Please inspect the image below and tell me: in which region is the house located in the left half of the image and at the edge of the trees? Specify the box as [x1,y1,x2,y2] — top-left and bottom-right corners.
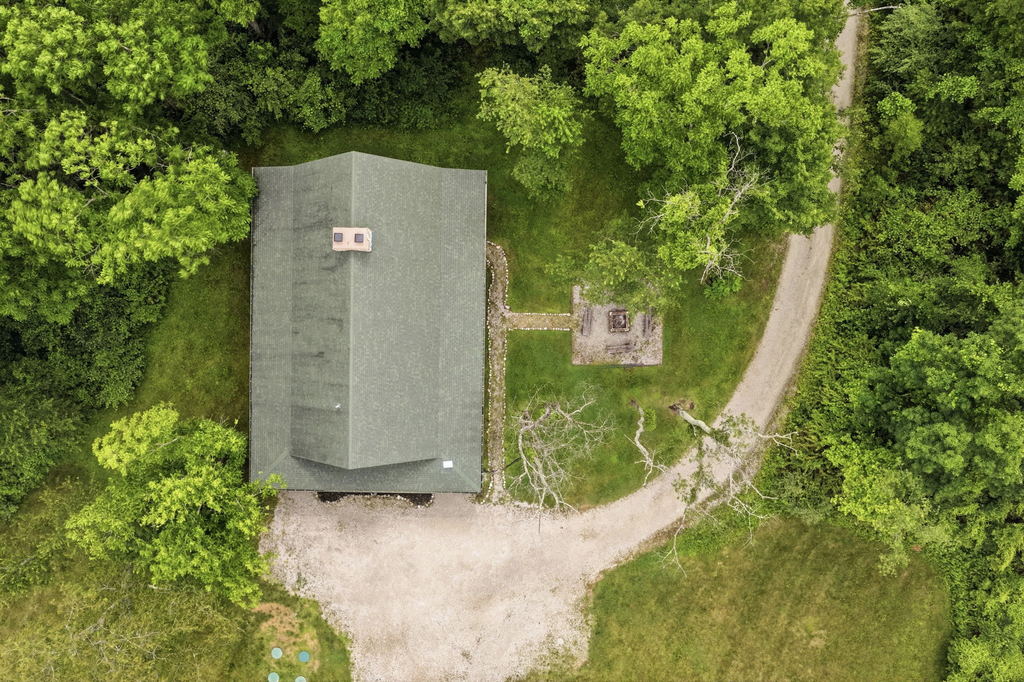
[248,150,486,494]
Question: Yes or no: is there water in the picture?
No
